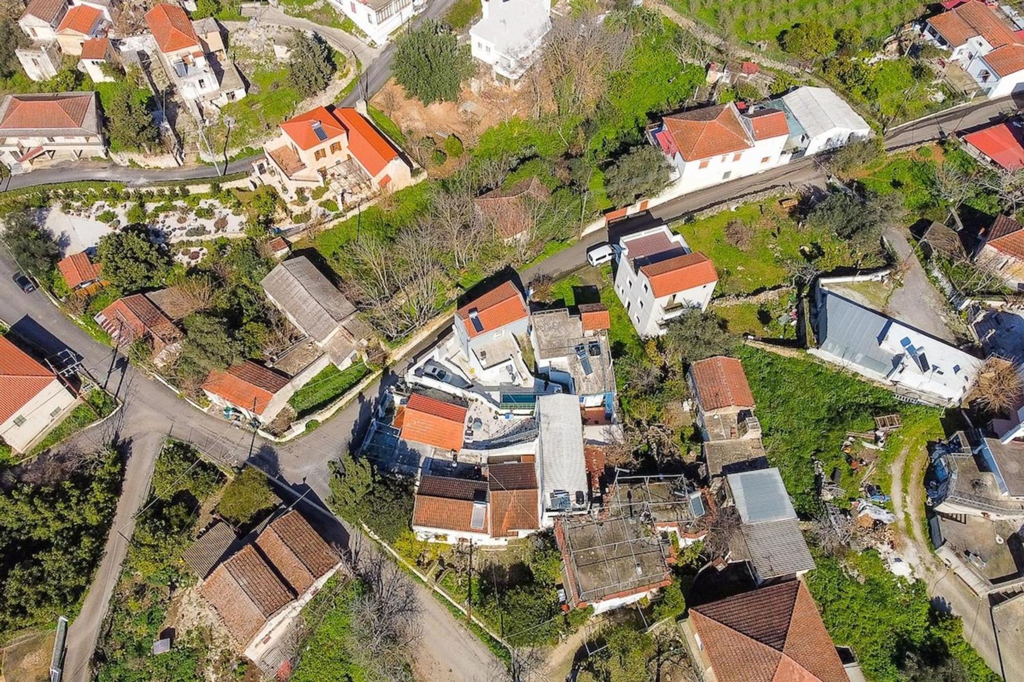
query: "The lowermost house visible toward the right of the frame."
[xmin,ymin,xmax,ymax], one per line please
[686,580,850,682]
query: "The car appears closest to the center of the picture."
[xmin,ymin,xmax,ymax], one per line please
[422,362,460,388]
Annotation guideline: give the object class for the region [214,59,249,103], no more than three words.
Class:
shed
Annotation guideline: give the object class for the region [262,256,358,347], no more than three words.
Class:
barn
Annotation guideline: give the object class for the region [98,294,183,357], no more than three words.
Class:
house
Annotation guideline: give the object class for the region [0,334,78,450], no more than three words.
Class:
building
